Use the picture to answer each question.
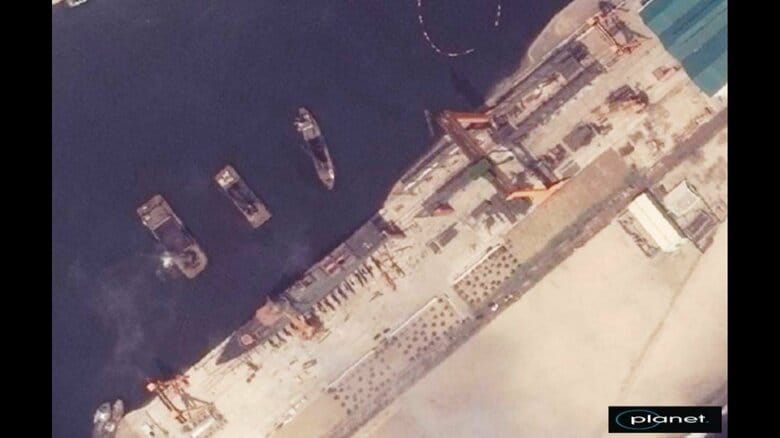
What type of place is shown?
port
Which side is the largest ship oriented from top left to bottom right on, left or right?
left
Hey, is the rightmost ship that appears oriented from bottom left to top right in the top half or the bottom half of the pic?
bottom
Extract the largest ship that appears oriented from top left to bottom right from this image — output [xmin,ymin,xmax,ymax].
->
[139,193,206,273]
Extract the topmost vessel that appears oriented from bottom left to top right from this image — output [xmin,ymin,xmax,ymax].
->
[214,220,391,363]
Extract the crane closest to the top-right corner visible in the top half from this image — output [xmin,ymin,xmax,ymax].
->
[593,8,650,55]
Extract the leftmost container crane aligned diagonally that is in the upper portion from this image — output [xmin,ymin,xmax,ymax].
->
[437,109,570,209]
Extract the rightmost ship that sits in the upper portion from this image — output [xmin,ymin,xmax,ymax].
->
[294,106,334,190]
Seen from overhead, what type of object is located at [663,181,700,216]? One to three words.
building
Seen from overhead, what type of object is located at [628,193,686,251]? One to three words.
building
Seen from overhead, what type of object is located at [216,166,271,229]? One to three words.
ship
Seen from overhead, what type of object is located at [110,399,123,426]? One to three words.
boat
